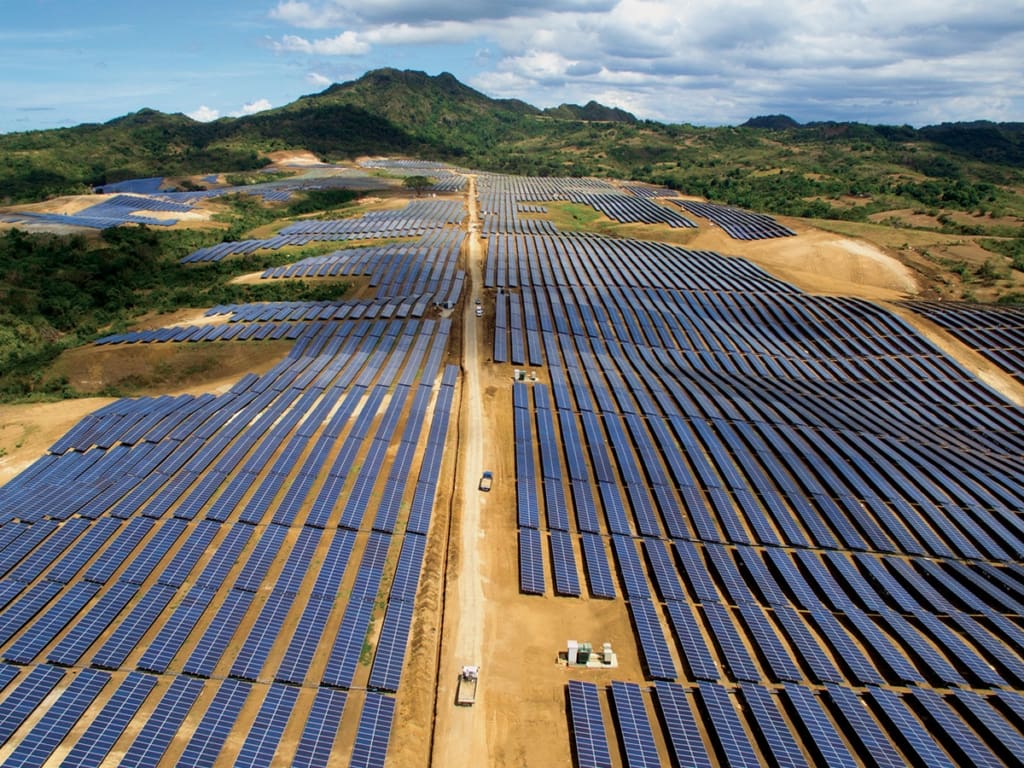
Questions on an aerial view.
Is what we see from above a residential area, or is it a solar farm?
solar farm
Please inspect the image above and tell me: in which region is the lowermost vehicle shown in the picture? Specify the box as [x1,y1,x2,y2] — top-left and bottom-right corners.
[458,664,480,705]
